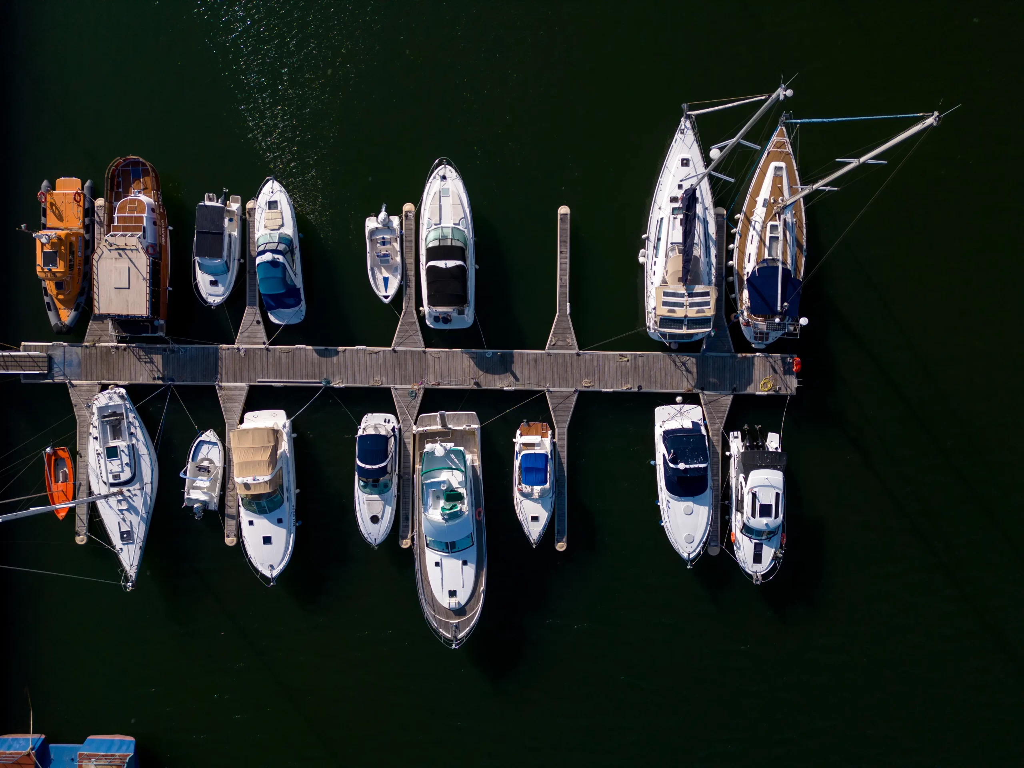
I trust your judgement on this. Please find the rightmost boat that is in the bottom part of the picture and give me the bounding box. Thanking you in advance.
[726,426,787,584]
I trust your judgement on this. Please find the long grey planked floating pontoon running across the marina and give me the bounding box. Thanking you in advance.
[22,342,803,395]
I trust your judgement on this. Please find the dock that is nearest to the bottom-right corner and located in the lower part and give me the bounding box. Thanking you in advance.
[698,392,734,555]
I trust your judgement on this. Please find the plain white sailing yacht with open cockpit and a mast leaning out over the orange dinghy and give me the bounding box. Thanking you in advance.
[0,388,158,592]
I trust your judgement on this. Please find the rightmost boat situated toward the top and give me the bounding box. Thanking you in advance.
[733,99,962,348]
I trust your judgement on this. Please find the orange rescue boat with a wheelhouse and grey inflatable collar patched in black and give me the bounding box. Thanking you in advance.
[18,177,95,334]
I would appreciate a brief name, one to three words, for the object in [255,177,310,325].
boat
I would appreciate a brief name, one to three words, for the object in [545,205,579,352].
pier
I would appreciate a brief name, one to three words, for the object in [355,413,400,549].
boat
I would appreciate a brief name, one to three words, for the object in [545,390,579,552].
pier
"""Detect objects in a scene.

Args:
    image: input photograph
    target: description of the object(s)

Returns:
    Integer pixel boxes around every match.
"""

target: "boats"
[733,99,962,348]
[652,396,714,566]
[18,177,95,334]
[644,73,798,348]
[192,188,245,308]
[91,153,172,341]
[0,439,77,521]
[179,429,225,520]
[415,410,486,648]
[255,177,310,325]
[726,426,787,584]
[366,205,402,303]
[514,419,555,547]
[0,388,158,592]
[420,157,475,329]
[230,410,298,586]
[355,413,400,549]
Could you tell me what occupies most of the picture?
water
